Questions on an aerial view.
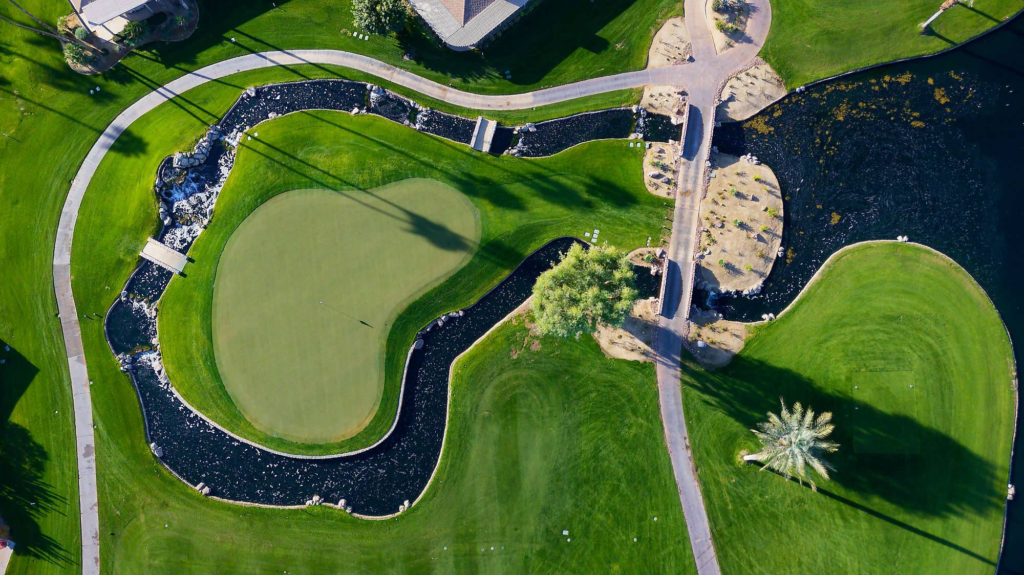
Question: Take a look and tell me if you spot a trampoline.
No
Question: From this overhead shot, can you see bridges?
Yes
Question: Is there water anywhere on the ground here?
Yes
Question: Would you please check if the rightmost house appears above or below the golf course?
above it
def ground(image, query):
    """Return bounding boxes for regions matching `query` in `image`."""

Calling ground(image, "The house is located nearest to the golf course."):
[406,0,540,54]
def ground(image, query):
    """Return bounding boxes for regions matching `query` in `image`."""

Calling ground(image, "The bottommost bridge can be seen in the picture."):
[657,257,696,319]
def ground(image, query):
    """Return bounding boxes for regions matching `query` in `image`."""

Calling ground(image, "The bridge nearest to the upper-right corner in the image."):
[679,101,717,160]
